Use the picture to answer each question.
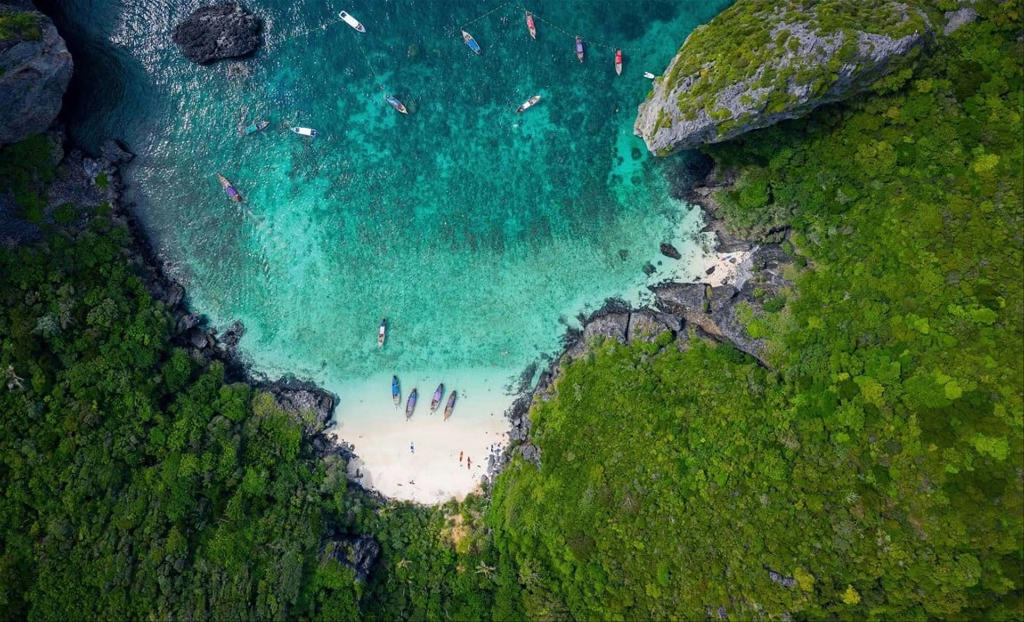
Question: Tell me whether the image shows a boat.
Yes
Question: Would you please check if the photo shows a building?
No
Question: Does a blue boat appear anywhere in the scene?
Yes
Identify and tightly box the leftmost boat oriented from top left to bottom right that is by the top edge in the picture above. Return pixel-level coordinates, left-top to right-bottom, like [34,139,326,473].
[339,10,365,32]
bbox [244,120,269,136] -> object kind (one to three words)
boat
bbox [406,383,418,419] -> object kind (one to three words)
boat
